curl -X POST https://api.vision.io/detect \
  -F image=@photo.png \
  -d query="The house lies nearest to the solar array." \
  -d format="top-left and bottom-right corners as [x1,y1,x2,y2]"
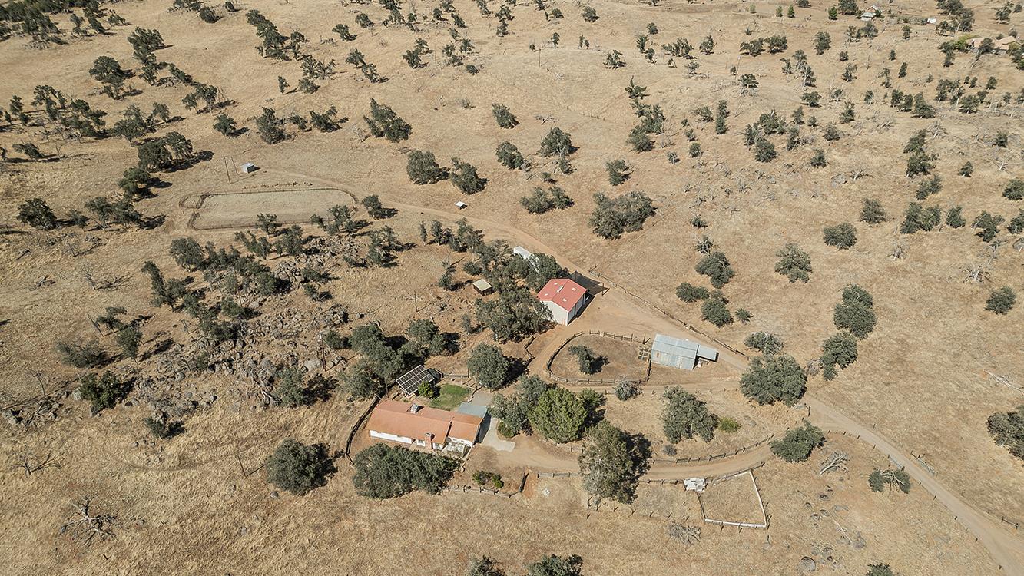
[367,400,488,450]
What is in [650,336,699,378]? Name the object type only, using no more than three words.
shed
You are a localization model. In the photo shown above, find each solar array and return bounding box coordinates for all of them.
[396,365,433,396]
